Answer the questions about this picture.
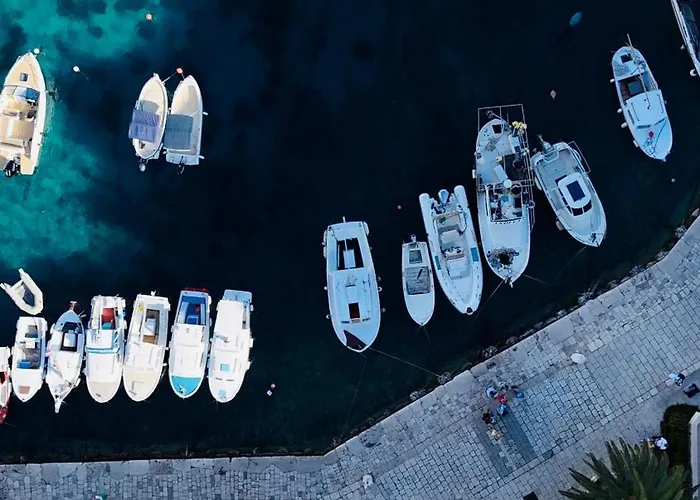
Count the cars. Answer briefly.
zero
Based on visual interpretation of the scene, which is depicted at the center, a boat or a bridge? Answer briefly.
boat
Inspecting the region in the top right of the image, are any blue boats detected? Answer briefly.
Yes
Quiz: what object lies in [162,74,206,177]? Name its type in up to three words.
boat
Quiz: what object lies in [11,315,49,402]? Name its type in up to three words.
boat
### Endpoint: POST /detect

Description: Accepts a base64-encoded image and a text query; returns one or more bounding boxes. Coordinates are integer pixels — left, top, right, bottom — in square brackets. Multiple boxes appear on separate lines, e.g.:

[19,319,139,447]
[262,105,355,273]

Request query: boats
[0,51,46,185]
[165,286,213,400]
[0,267,44,317]
[472,97,543,288]
[11,315,49,402]
[529,131,604,248]
[46,300,84,412]
[420,176,485,316]
[321,215,385,352]
[81,295,128,404]
[162,74,206,177]
[130,72,168,174]
[120,291,171,404]
[0,345,13,419]
[612,30,671,161]
[204,289,257,404]
[400,233,435,327]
